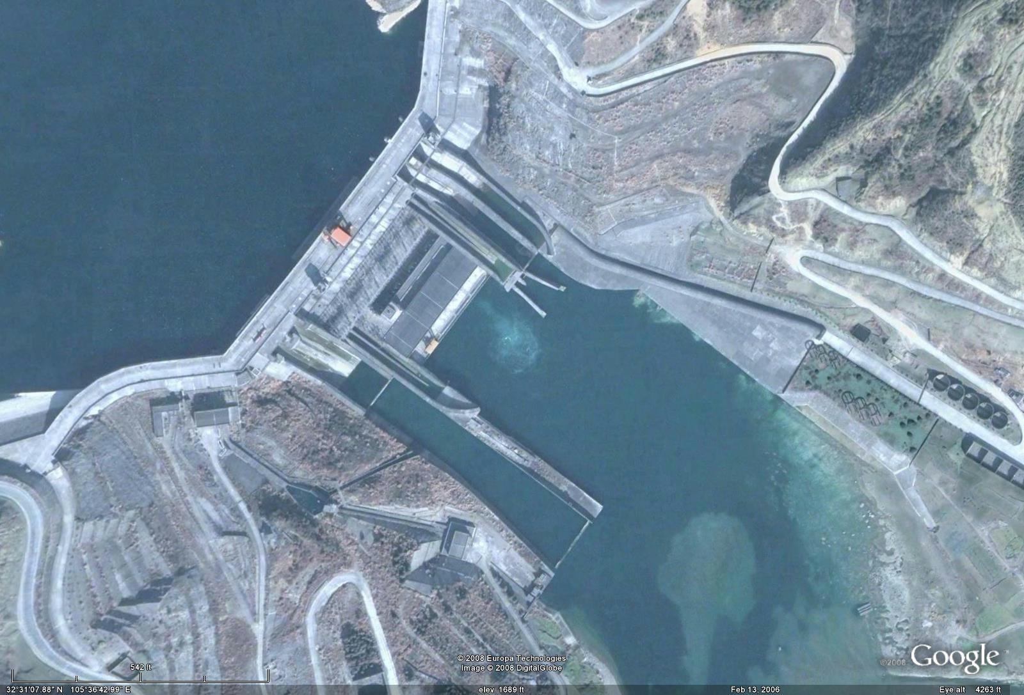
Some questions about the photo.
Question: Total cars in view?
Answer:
0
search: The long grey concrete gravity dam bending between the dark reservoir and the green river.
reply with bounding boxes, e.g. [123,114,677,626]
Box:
[44,0,488,455]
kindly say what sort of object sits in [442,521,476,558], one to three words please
house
